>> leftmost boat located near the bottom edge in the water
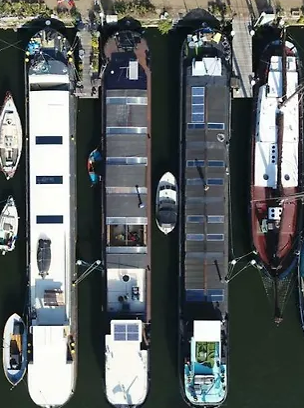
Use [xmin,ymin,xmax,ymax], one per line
[1,313,27,394]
